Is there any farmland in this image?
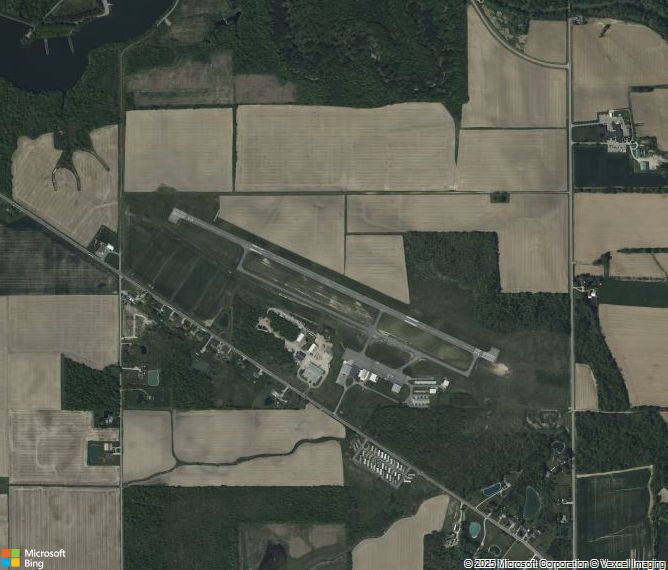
Yes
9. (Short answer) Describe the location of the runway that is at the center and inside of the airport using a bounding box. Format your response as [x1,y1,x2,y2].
[168,207,500,362]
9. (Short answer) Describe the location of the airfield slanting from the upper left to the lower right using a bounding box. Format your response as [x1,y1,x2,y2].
[168,207,500,415]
